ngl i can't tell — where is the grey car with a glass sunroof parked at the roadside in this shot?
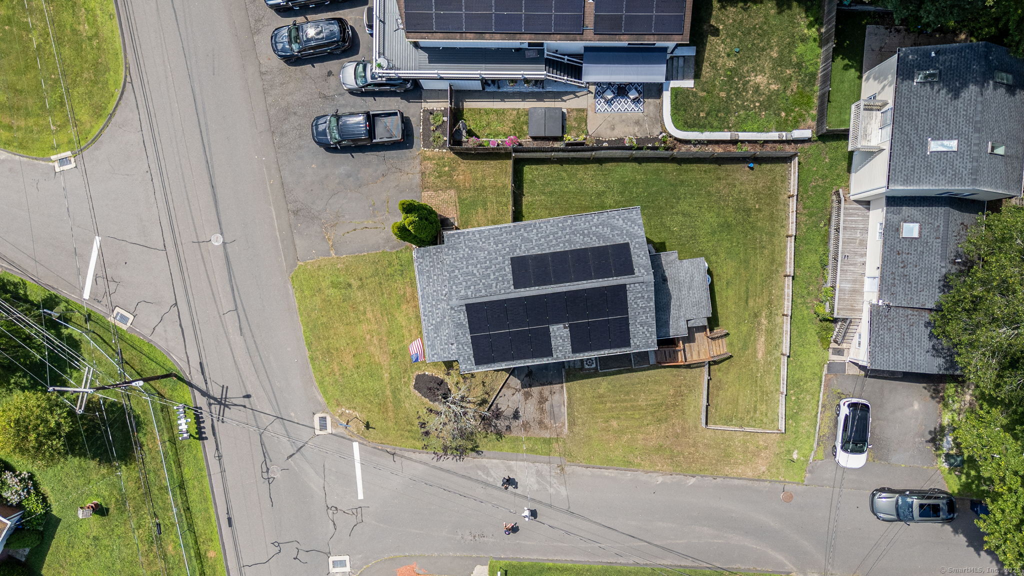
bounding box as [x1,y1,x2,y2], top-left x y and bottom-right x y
[868,485,957,528]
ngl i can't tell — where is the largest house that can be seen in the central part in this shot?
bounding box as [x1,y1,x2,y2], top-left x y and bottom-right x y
[412,204,714,375]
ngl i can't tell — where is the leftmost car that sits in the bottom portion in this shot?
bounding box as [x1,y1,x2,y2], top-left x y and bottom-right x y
[831,396,874,469]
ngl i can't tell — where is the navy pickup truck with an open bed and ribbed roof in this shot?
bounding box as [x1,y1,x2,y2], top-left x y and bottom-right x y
[311,105,406,149]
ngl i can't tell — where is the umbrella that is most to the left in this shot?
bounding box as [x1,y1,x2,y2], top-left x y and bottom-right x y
[452,121,468,140]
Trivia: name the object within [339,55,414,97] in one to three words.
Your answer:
car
